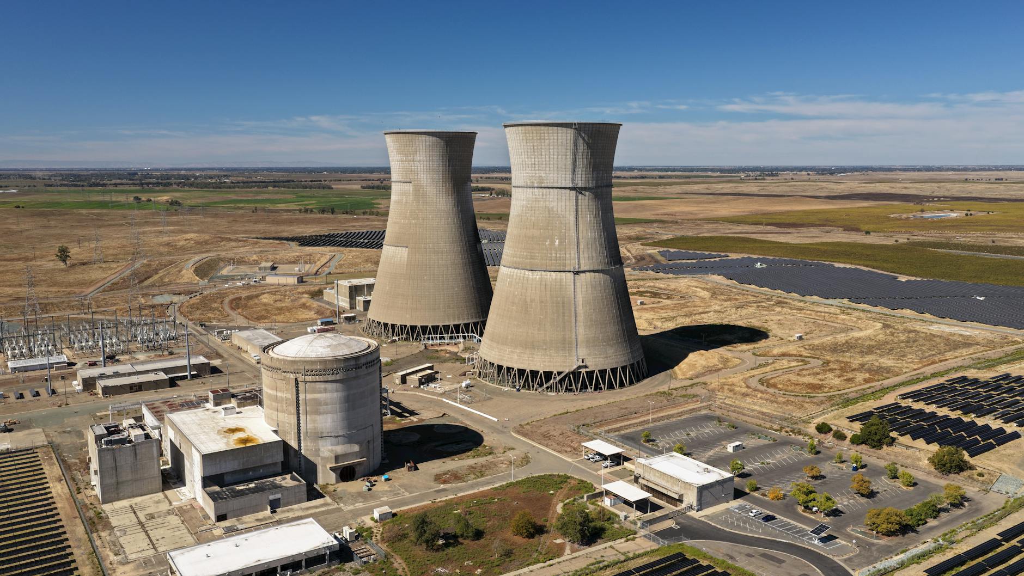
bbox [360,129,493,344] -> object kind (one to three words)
cooling tower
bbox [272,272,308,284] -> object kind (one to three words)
building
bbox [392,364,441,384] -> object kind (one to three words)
building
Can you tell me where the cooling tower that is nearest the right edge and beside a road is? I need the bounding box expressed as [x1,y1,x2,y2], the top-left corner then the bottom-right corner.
[474,119,651,396]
